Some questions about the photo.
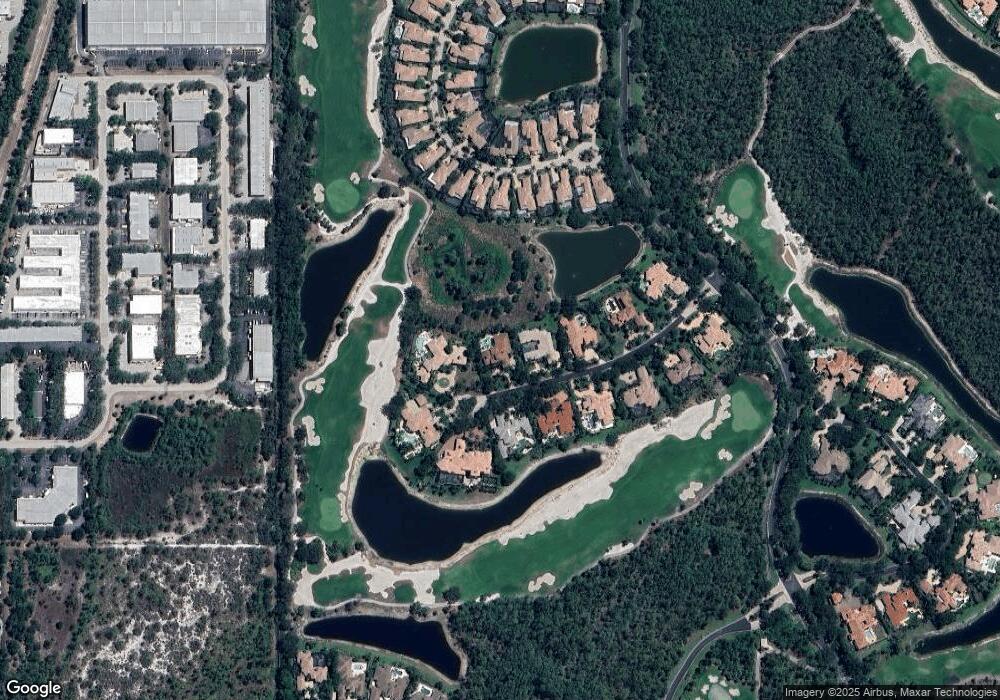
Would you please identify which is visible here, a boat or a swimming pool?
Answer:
swimming pool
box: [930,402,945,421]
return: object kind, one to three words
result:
swimming pool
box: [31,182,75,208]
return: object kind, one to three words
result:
building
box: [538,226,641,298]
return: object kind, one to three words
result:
pond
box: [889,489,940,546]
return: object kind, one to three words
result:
house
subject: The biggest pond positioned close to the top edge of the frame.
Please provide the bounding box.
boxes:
[501,26,598,103]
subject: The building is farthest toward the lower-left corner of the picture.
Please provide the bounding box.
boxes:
[17,466,78,525]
